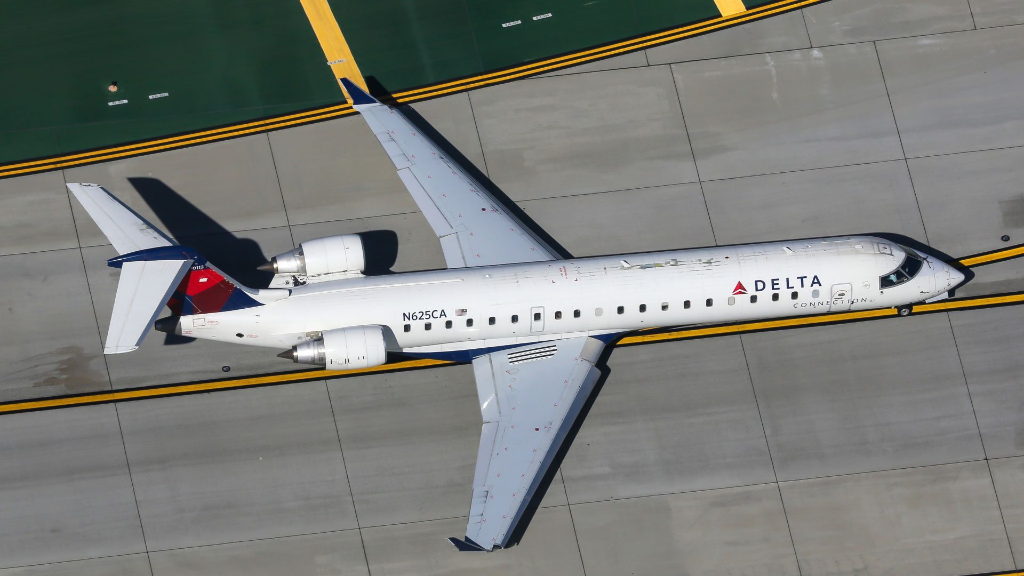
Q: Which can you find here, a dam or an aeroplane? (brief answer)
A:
aeroplane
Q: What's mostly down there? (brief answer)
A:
paved ground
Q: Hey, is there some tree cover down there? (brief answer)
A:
No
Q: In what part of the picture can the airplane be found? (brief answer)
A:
center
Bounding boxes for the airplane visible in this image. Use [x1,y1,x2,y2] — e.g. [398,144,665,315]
[66,78,964,551]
